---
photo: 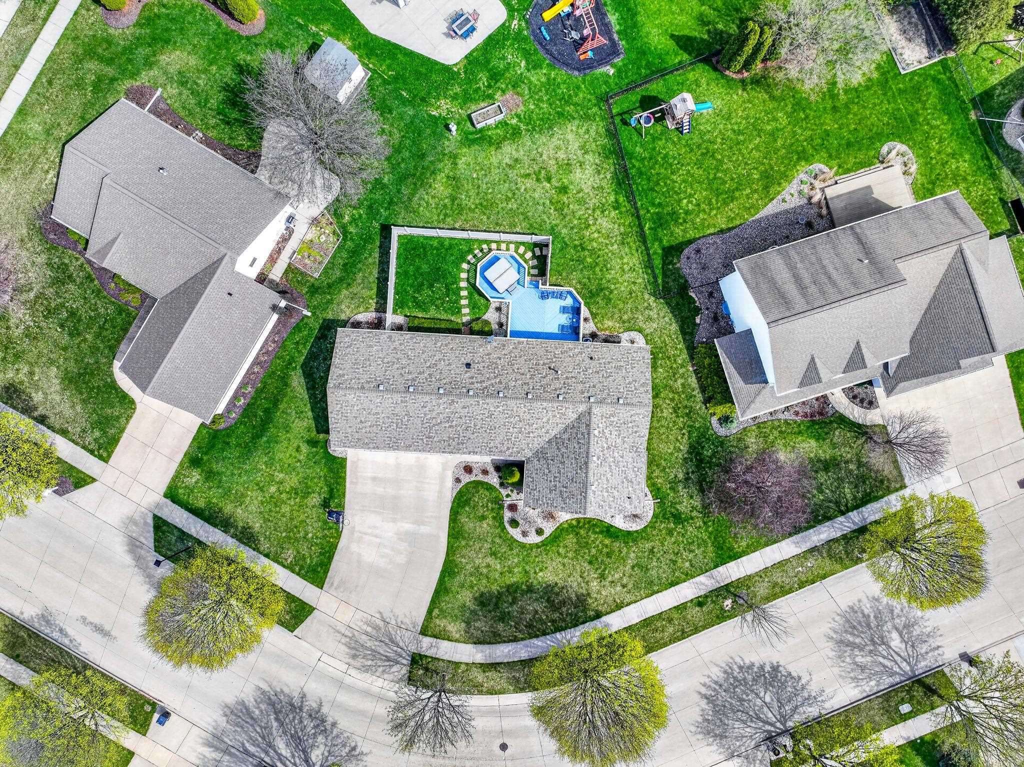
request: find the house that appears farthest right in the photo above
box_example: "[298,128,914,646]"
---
[711,190,1024,422]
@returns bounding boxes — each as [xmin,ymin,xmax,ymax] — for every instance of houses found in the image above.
[711,190,1024,422]
[327,327,653,515]
[51,97,297,424]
